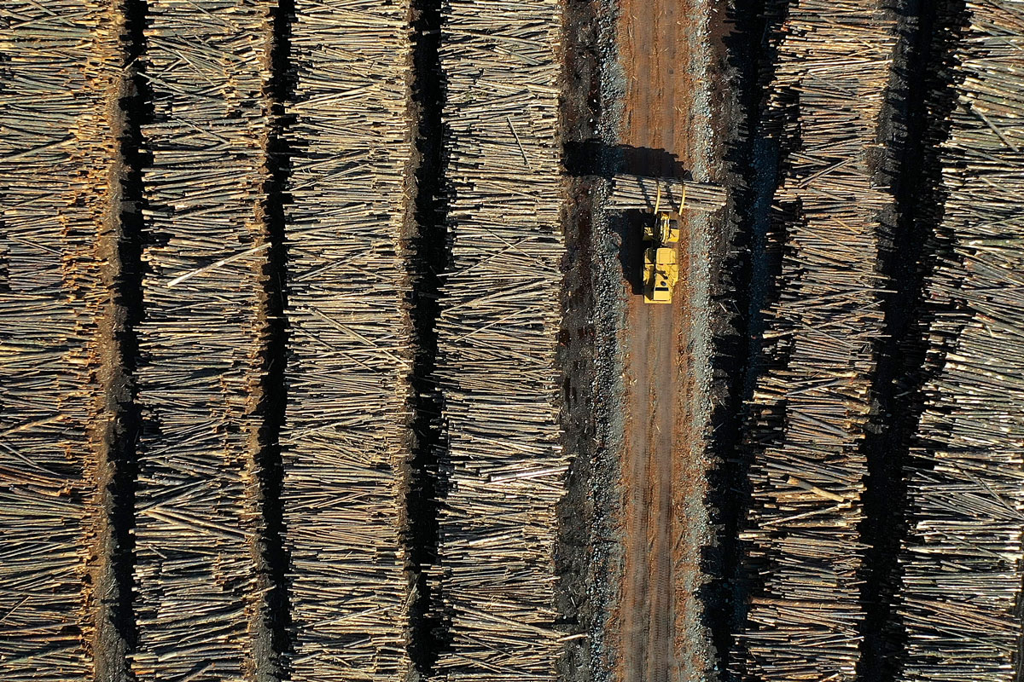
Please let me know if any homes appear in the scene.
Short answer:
No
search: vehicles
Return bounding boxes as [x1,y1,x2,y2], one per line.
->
[639,176,684,305]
